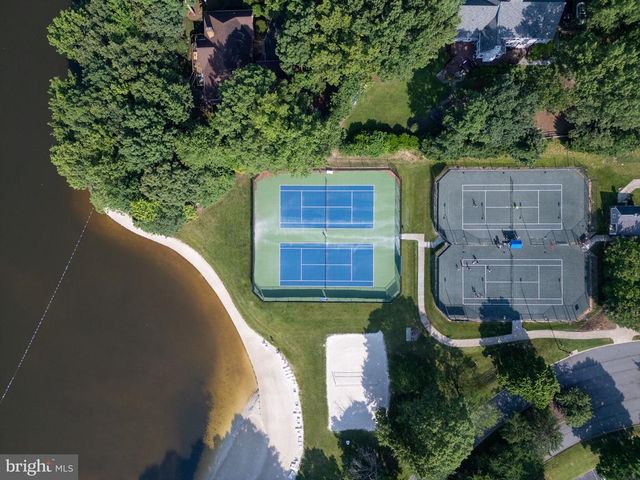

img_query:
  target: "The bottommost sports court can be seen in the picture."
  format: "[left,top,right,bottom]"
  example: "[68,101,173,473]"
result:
[325,331,389,432]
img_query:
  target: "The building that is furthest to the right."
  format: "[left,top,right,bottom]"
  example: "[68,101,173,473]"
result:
[612,206,640,234]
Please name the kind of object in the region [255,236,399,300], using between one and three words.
tennis court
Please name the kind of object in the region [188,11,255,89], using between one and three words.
house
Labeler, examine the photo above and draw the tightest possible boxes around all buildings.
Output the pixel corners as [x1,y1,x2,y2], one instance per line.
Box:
[446,0,566,67]
[188,11,255,89]
[612,206,640,234]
